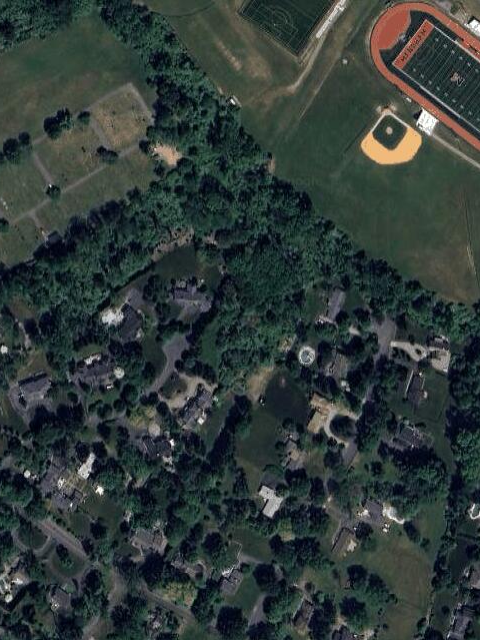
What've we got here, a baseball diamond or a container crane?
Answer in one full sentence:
Of the two, only a baseball diamond appears.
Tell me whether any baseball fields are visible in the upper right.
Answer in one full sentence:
Yes, you'll find a baseball field in the upper right.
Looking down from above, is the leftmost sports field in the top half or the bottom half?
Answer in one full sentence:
The leftmost sports field sits in the top half of the picture.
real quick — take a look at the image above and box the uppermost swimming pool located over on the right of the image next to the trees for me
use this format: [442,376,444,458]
[300,347,315,363]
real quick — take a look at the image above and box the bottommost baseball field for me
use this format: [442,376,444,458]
[361,108,422,165]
